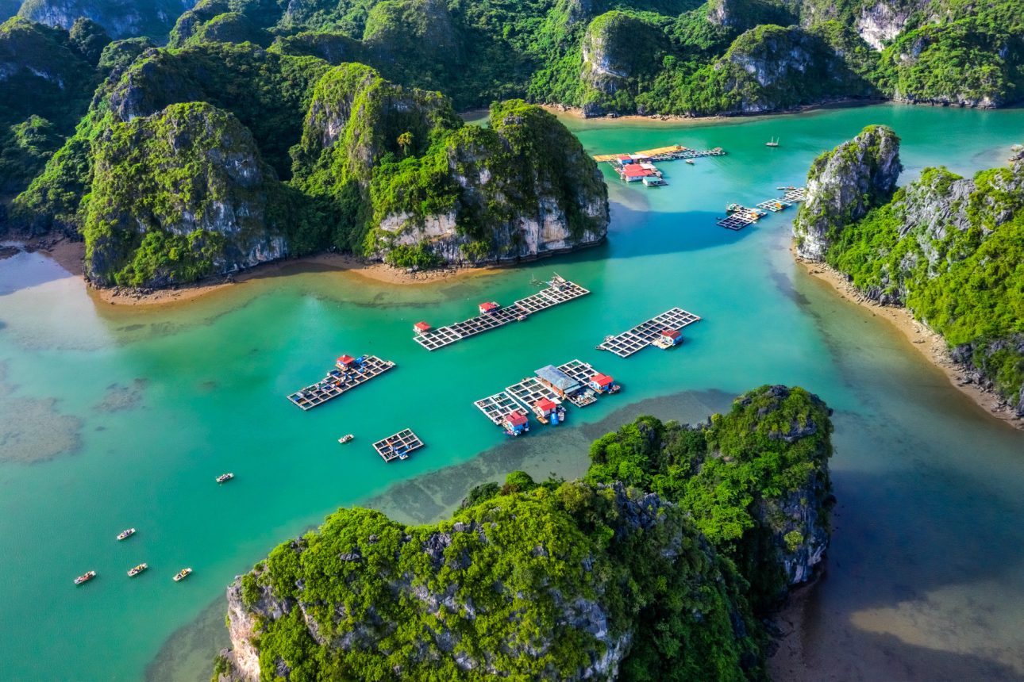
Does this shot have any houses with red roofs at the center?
Yes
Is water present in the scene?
Yes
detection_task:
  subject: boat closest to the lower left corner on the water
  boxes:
[71,570,98,585]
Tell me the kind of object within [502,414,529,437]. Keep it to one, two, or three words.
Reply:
house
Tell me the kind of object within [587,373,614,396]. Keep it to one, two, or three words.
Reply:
house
